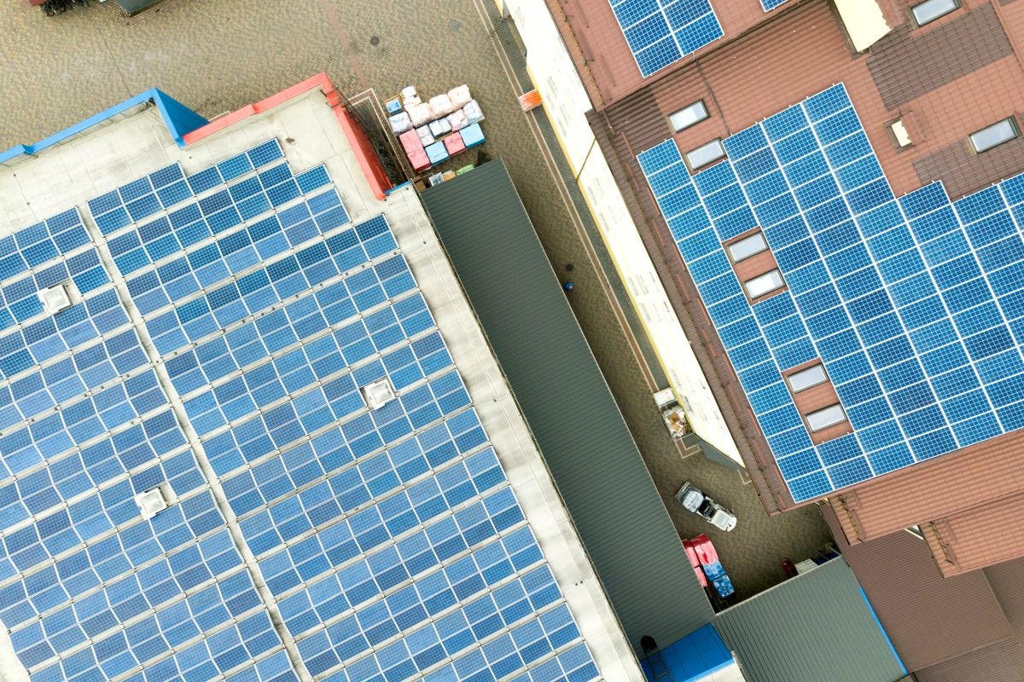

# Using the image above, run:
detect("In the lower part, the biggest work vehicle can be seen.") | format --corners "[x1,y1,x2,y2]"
[697,496,739,532]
